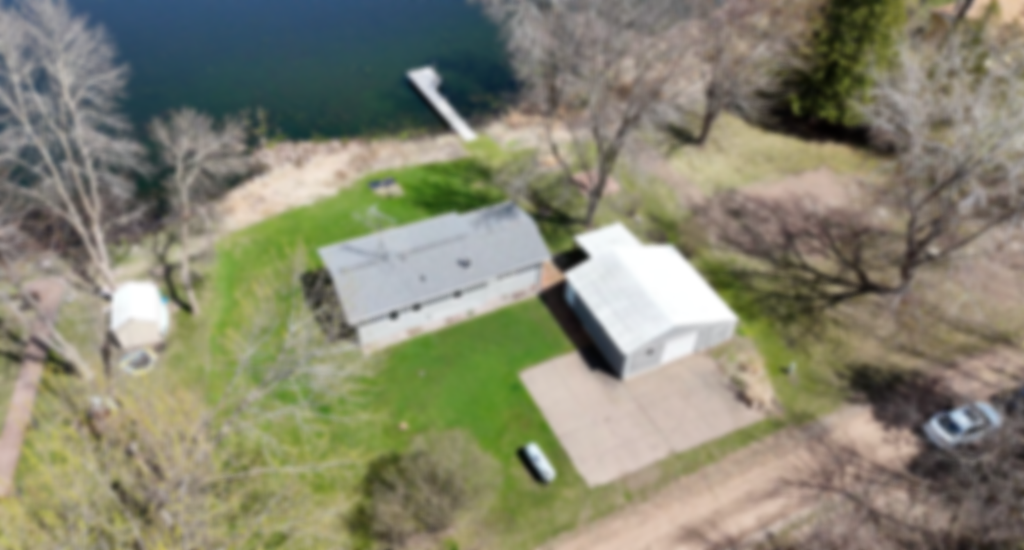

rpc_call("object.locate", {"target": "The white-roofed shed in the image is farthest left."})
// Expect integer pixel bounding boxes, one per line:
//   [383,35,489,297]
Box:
[110,281,167,349]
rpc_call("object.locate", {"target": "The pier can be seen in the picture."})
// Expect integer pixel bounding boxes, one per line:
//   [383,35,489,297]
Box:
[412,66,476,142]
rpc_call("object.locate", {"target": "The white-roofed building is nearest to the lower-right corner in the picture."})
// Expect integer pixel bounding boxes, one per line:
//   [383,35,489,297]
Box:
[563,222,741,380]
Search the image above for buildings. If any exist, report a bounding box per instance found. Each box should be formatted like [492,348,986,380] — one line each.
[563,222,741,380]
[110,281,167,349]
[315,197,556,353]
